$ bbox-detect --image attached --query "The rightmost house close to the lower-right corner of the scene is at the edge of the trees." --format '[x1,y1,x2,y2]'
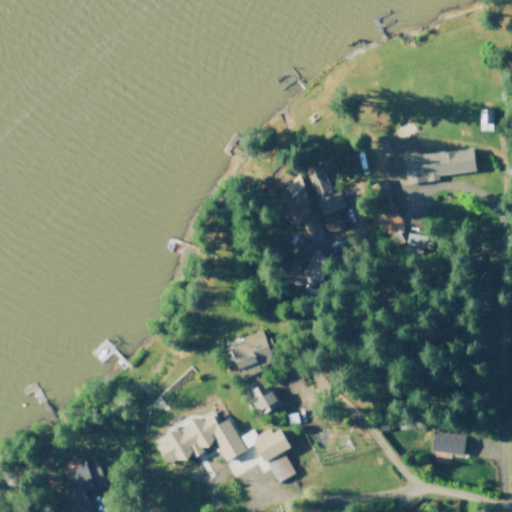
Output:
[432,432,467,460]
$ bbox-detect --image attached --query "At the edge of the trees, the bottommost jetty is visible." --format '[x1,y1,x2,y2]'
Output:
[24,381,61,424]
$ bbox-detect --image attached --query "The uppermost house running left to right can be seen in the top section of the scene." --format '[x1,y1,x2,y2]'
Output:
[406,146,479,183]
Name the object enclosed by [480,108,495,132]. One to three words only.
shed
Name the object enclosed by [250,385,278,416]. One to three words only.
house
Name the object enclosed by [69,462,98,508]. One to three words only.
house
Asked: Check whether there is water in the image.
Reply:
Yes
